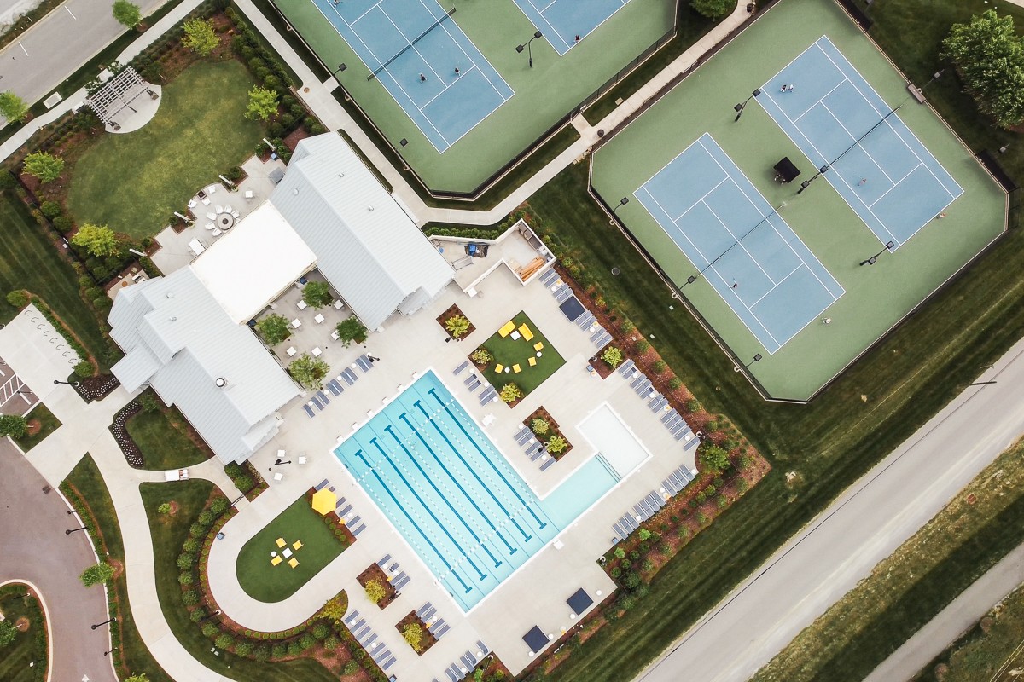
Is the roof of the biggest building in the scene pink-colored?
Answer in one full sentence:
No, from above the roof of the biggest building looks white.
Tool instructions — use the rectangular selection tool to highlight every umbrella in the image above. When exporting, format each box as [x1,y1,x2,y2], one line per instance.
[560,295,586,322]
[312,488,337,516]
[522,625,550,654]
[567,587,594,615]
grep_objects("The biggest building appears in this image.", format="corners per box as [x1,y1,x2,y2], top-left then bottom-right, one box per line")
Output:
[107,128,456,465]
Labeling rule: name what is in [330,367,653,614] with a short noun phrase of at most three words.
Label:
swimming pool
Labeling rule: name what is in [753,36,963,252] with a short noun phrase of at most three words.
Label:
tennis court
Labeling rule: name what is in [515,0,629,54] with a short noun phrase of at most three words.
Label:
tennis court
